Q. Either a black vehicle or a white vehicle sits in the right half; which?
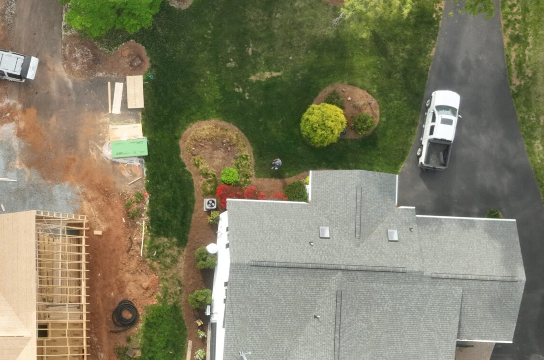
white vehicle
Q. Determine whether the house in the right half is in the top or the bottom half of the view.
bottom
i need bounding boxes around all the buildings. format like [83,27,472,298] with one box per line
[0,210,89,360]
[192,169,525,360]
